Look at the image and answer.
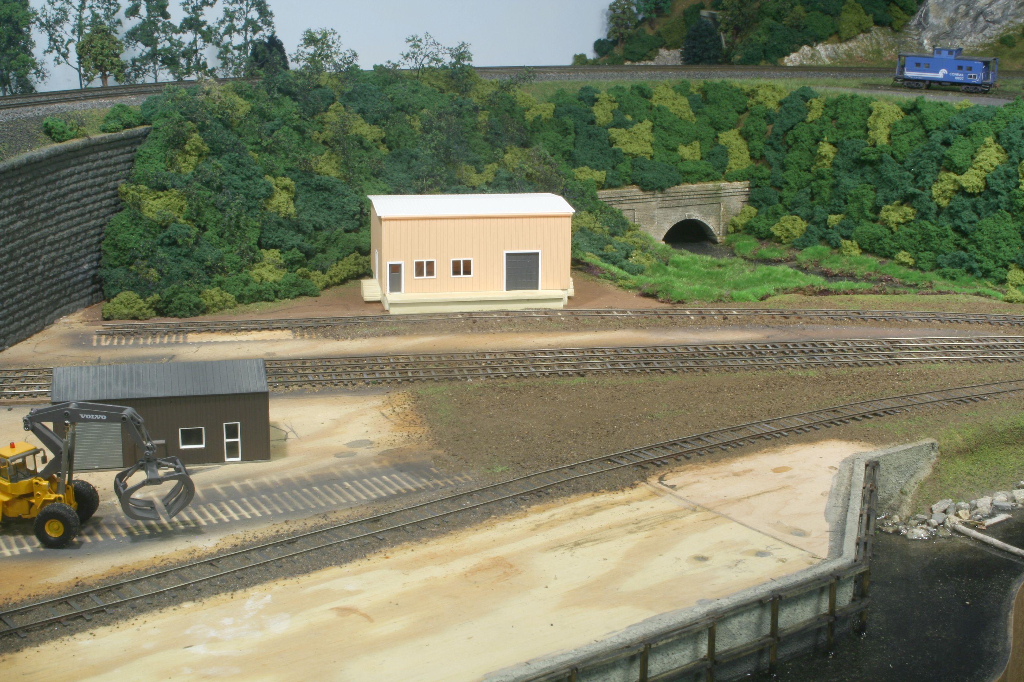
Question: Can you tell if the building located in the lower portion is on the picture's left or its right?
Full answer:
You can find the building located in the lower portion on the left side of the picture.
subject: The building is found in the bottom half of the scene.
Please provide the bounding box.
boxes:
[51,354,272,474]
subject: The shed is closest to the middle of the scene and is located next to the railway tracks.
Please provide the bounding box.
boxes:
[363,192,576,314]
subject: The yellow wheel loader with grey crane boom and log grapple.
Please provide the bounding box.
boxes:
[0,401,195,548]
